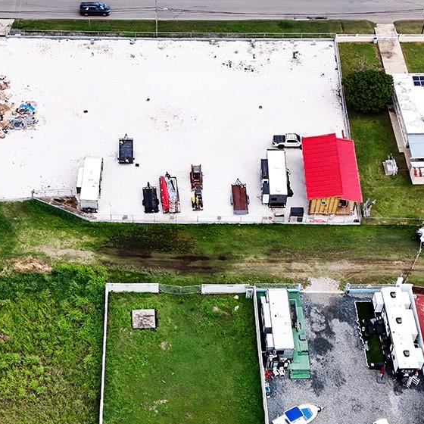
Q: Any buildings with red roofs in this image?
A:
Yes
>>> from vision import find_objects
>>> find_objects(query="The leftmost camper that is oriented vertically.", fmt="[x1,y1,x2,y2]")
[76,159,102,213]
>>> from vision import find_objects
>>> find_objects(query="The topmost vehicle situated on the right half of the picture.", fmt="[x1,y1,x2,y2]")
[272,133,303,152]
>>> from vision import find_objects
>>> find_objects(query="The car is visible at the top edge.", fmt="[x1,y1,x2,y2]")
[79,0,111,17]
